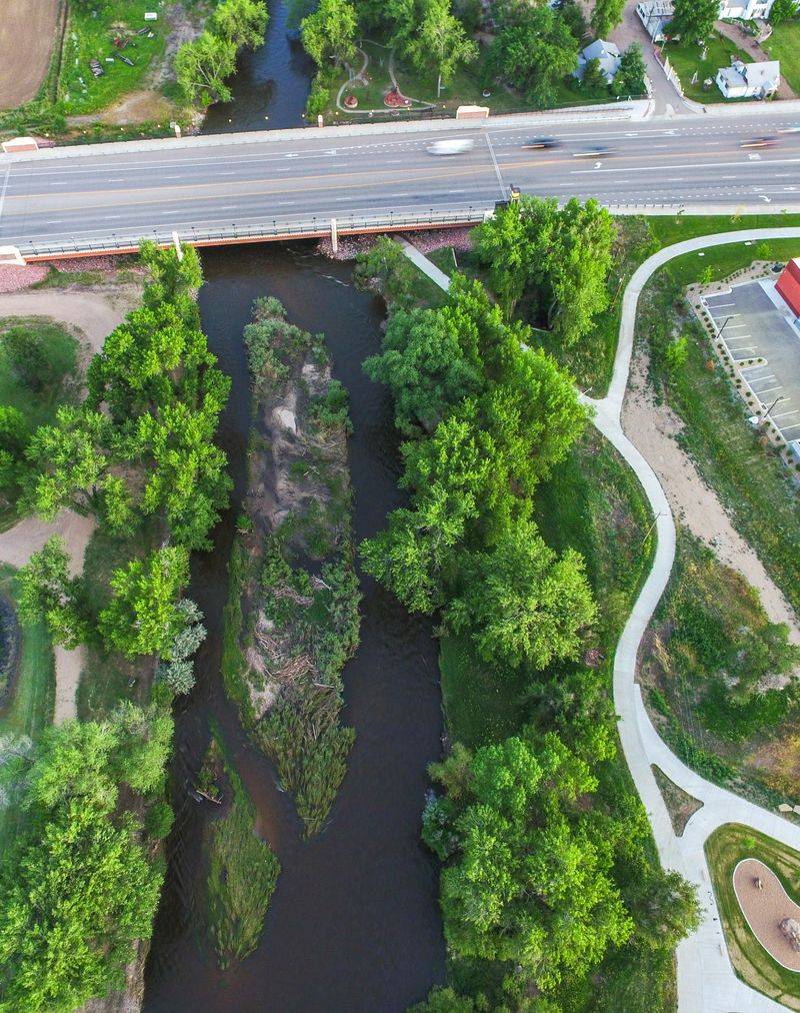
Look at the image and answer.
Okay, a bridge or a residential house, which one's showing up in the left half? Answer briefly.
bridge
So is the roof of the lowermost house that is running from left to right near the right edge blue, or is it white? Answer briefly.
white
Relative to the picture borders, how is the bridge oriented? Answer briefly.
from left to right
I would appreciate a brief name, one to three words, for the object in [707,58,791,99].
house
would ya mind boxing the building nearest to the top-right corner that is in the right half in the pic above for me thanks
[724,0,773,29]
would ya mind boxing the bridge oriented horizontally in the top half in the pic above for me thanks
[24,113,483,261]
